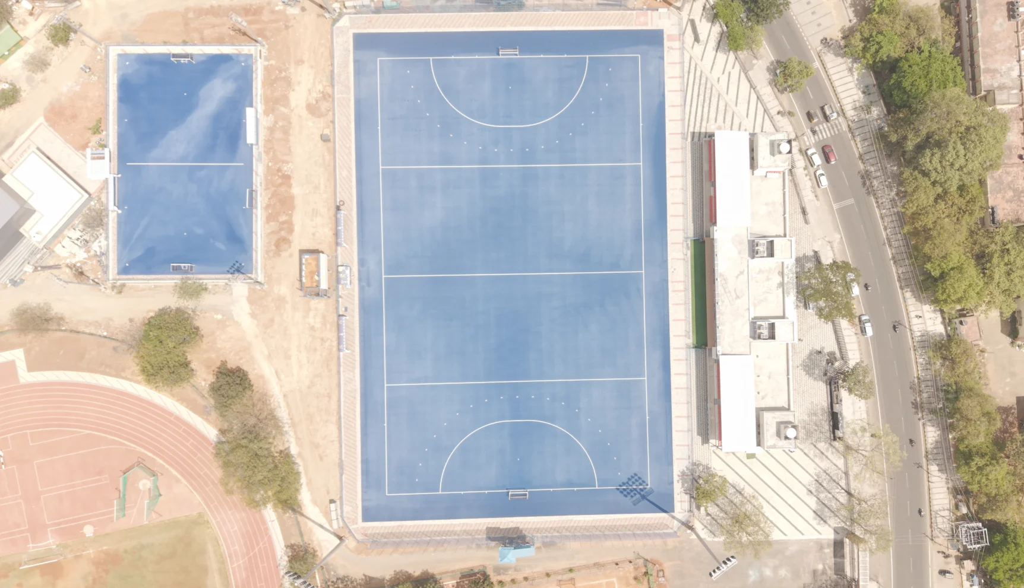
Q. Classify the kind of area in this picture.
sports ground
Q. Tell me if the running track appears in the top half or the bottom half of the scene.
bottom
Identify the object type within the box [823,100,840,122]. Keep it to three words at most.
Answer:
vehicle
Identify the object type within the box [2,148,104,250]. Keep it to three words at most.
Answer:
building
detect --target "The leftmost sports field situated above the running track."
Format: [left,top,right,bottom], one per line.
[111,48,262,278]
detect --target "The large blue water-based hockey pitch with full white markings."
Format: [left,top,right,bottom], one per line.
[337,12,691,539]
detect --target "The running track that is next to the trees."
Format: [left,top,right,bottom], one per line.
[0,349,291,588]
